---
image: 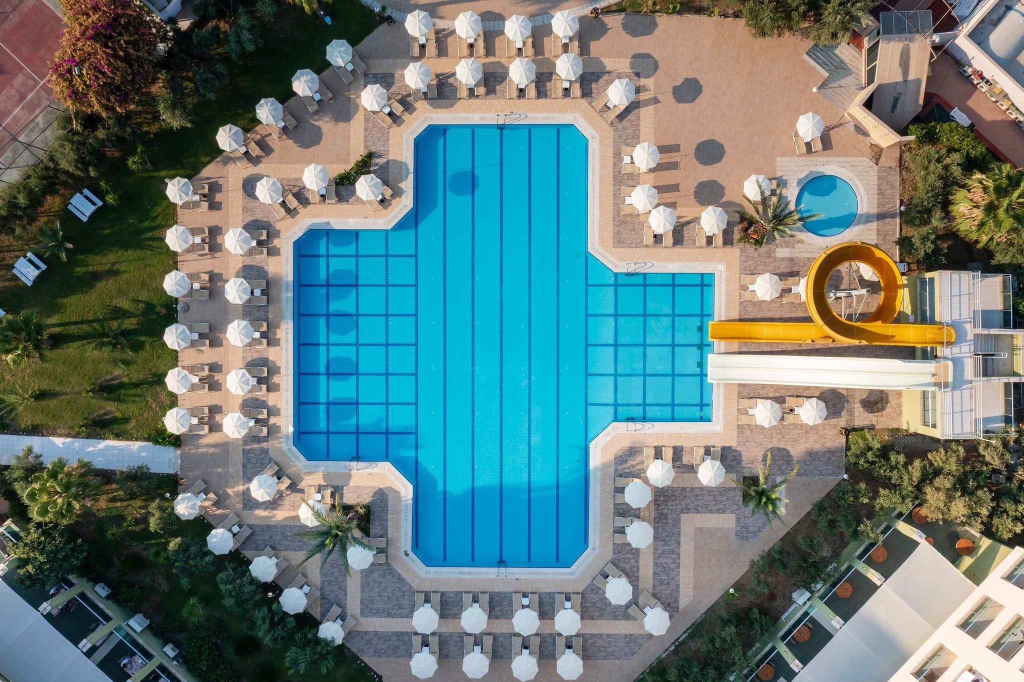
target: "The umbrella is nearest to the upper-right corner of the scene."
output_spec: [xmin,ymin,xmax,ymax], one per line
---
[791,113,821,142]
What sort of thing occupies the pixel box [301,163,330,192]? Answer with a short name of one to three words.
umbrella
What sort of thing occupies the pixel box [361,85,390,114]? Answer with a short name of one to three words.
umbrella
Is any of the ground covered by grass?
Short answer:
Yes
